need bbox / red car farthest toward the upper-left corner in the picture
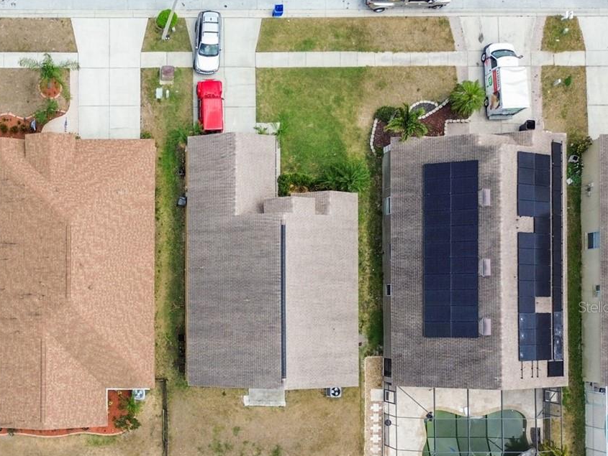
[197,77,225,134]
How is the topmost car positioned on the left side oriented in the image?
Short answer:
from top to bottom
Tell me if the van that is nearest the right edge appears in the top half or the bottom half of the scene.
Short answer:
top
